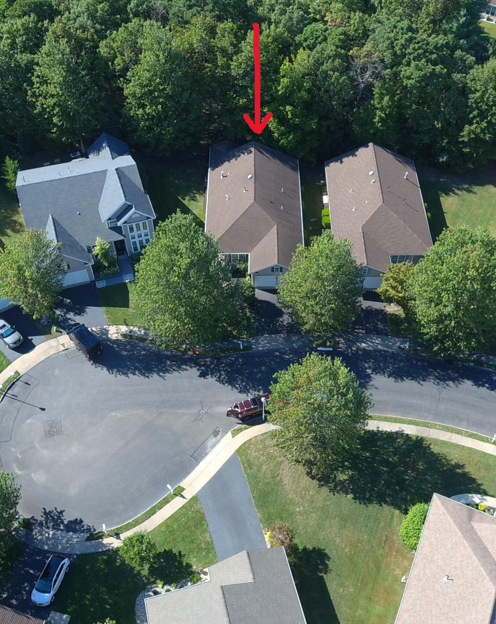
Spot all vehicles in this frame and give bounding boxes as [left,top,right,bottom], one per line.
[66,324,100,359]
[0,317,22,348]
[31,552,69,606]
[232,395,277,422]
